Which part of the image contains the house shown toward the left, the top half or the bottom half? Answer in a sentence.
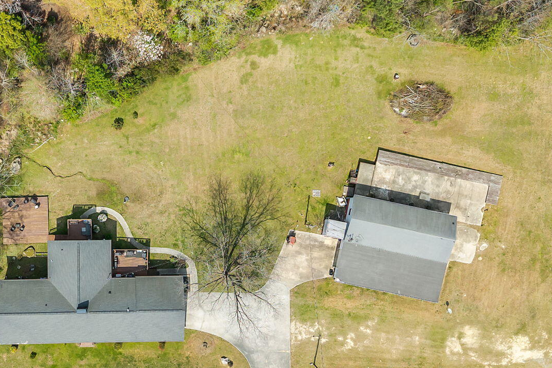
The house shown toward the left is in the bottom half of the image.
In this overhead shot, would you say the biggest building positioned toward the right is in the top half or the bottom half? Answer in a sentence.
The biggest building positioned toward the right sits in the bottom half of the picture.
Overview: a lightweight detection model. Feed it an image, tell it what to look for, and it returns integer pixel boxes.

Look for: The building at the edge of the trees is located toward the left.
[0,240,187,346]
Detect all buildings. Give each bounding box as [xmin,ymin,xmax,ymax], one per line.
[0,240,187,346]
[332,194,457,303]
